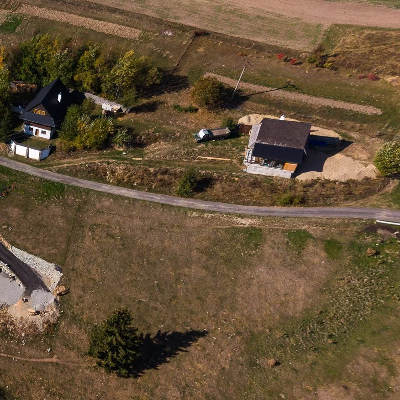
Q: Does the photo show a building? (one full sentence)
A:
Yes, there is a building in the image.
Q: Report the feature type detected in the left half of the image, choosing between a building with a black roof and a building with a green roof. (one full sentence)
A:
You can see a building with a black roof in the left half of the image.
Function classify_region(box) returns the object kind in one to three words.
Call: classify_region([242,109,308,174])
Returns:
house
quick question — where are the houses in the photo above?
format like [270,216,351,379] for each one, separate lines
[18,76,71,136]
[242,109,308,174]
